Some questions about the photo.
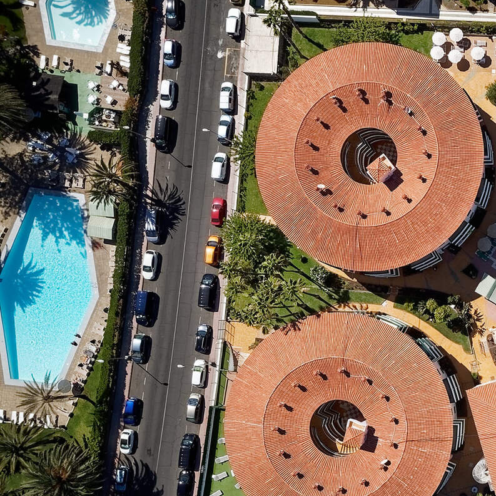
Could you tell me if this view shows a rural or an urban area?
urban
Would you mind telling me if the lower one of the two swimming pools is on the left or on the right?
left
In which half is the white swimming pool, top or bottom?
top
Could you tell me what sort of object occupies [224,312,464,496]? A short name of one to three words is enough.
building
